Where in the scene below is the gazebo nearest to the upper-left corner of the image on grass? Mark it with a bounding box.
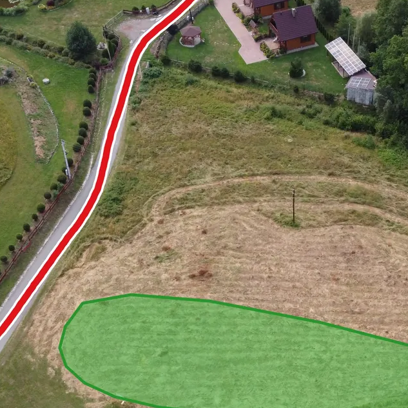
[176,25,201,46]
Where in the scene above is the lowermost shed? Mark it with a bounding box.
[346,69,382,103]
